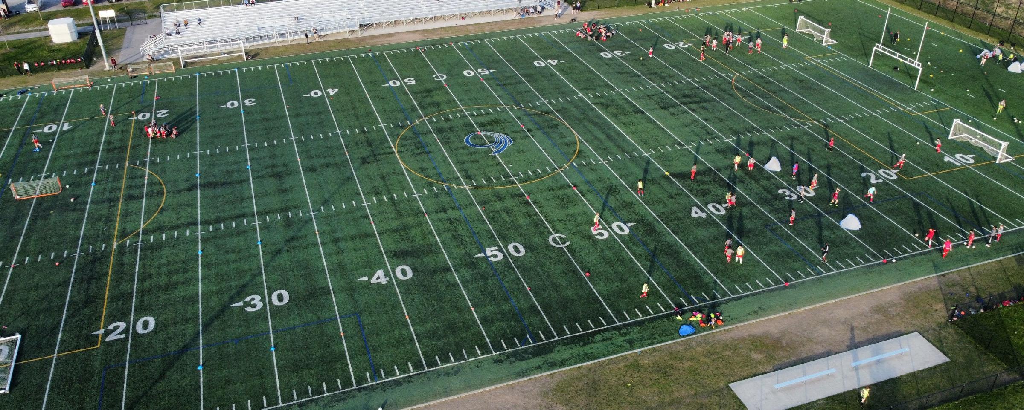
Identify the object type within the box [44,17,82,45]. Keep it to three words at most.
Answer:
shed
